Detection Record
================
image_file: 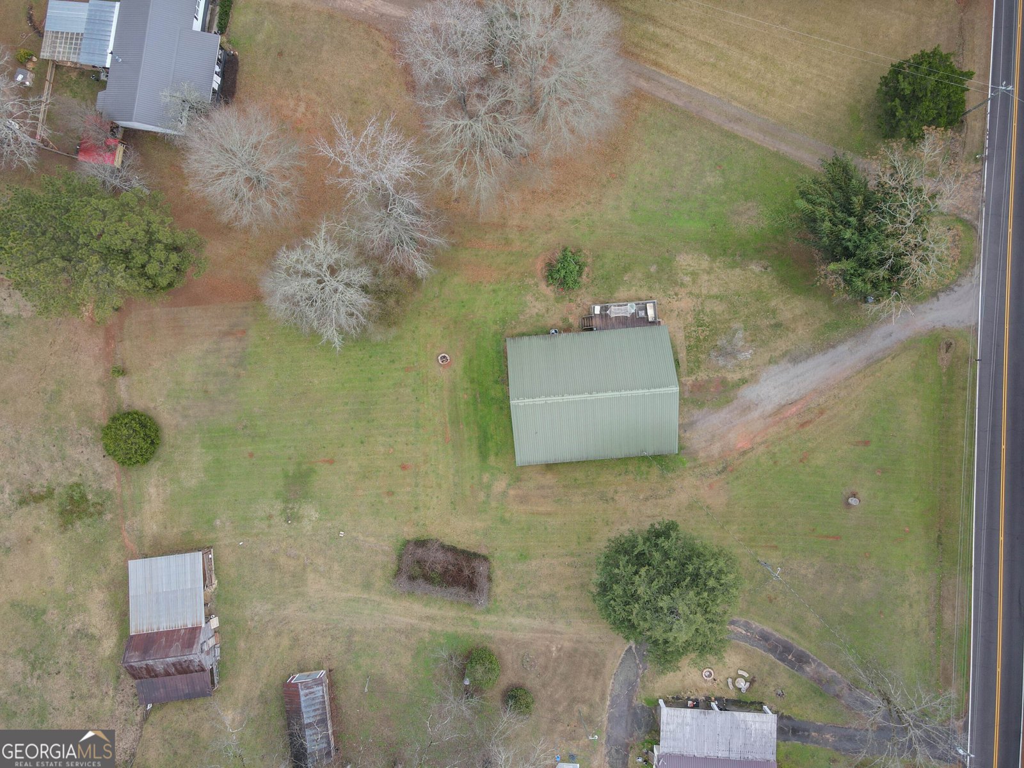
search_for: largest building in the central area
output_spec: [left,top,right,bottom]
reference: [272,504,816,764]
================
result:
[506,325,679,465]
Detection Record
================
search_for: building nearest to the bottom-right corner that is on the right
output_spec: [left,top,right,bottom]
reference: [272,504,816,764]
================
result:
[649,697,777,768]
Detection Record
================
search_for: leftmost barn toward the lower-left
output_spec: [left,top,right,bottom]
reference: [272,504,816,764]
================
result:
[122,549,223,705]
